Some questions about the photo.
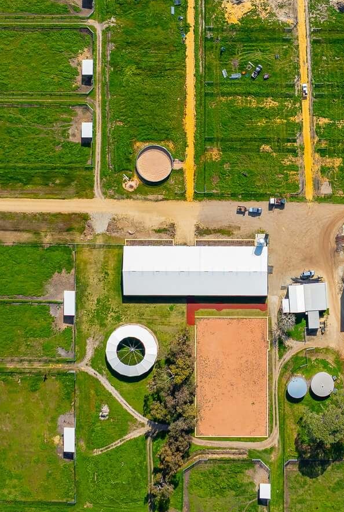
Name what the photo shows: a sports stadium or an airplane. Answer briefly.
sports stadium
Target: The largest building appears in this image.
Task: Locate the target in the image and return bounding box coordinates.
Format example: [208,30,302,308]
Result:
[122,246,267,297]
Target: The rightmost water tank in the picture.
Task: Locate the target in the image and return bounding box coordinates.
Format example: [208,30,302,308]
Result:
[310,372,334,396]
